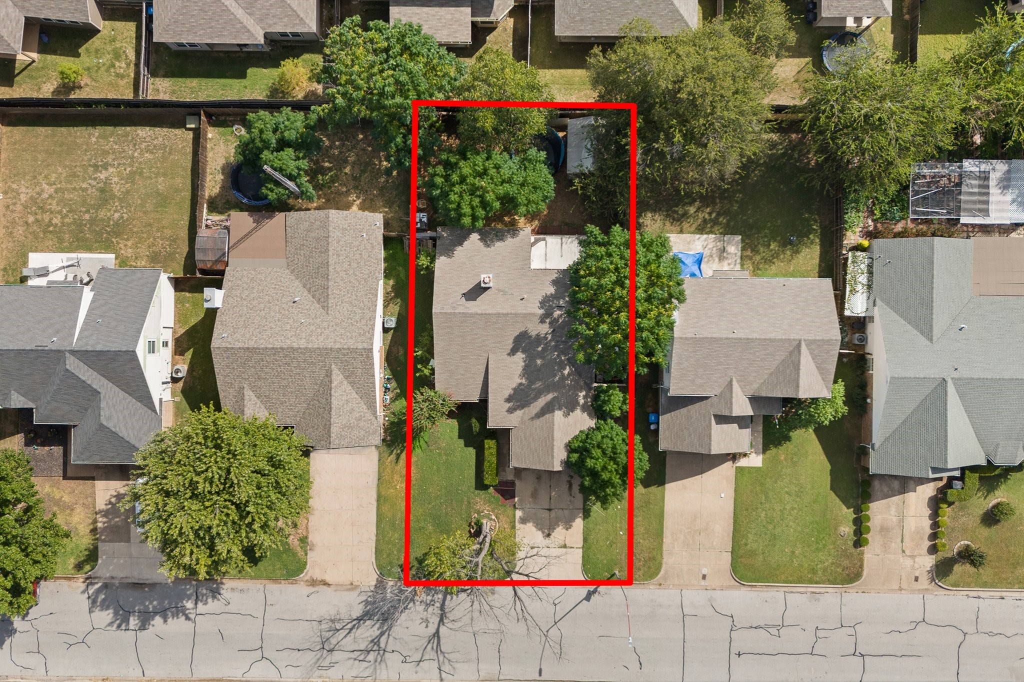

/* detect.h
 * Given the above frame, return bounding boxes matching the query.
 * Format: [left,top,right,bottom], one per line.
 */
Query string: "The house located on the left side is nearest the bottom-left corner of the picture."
[0,267,175,466]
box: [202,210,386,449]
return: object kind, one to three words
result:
house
